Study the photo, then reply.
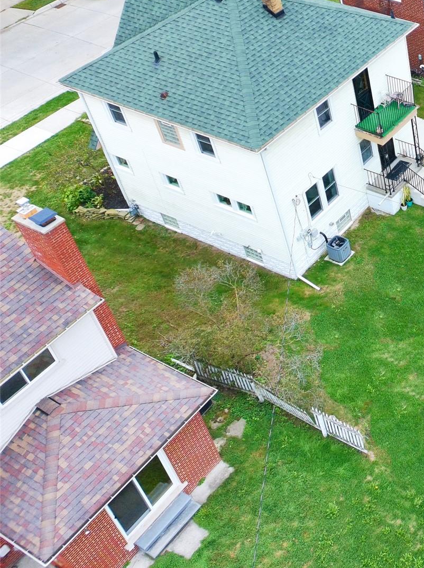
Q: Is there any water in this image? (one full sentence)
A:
No, there is no water in the image.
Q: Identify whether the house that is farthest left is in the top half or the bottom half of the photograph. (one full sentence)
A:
Seen from above, the house that is farthest left lies in the bottom half of the view.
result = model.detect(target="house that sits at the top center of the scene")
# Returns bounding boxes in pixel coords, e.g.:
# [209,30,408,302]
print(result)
[53,0,424,292]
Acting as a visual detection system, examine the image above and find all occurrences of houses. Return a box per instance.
[53,0,424,292]
[0,200,226,568]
